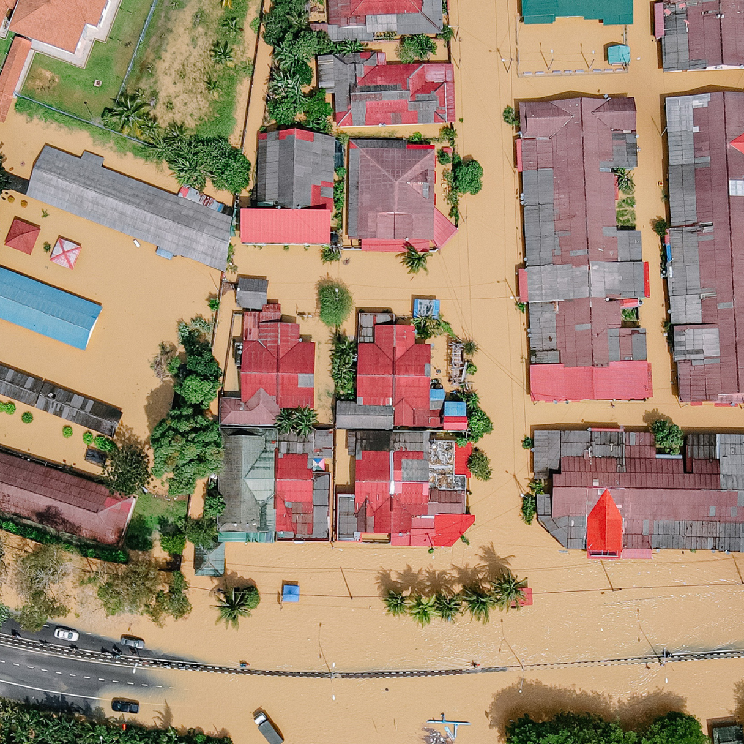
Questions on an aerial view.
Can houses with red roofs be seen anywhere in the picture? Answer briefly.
Yes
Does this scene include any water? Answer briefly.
Yes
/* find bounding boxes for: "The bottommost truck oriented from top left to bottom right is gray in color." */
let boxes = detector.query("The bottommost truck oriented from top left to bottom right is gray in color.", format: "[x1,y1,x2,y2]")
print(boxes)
[255,710,284,744]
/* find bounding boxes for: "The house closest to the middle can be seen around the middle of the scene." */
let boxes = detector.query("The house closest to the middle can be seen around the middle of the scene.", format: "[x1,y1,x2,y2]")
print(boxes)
[337,312,445,429]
